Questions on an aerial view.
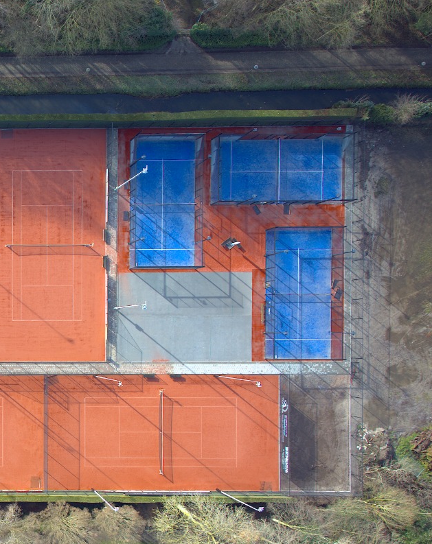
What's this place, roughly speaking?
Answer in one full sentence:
The area seen from above is a sports ground.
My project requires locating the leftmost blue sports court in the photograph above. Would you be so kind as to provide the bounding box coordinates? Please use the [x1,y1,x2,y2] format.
[130,133,211,268]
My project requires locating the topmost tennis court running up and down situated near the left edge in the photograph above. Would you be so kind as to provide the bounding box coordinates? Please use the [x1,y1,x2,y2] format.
[0,129,107,363]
